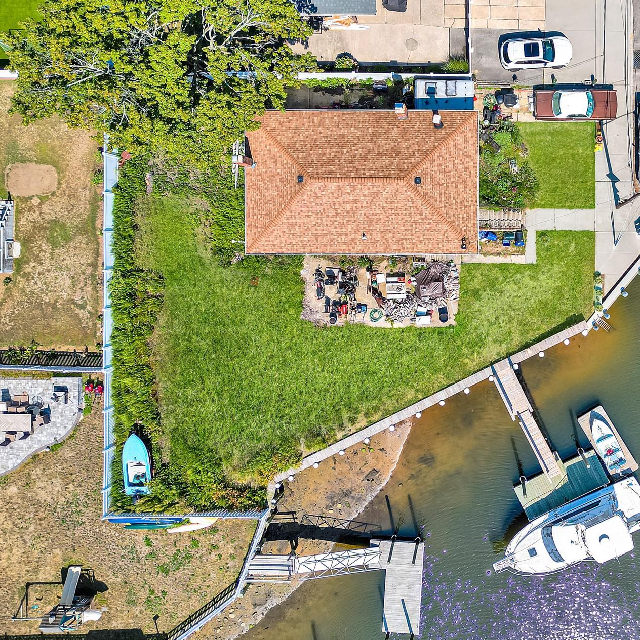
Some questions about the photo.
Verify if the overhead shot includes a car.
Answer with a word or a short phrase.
Yes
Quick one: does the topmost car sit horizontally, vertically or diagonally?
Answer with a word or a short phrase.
horizontally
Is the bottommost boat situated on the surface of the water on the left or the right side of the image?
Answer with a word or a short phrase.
right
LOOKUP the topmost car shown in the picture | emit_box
[500,32,573,71]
